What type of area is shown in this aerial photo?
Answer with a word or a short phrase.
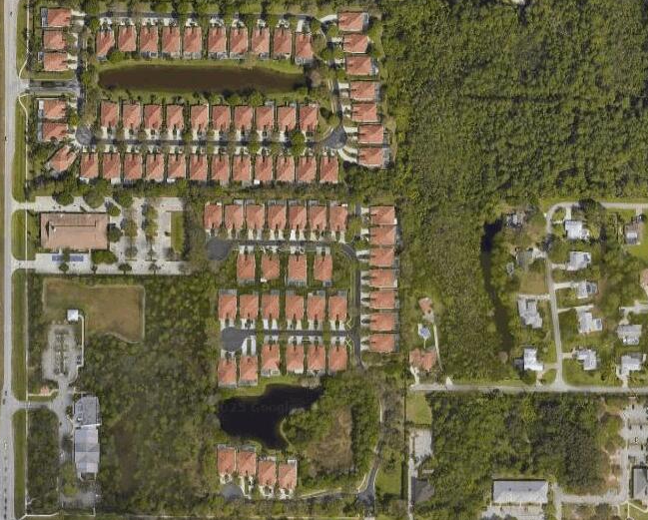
residential area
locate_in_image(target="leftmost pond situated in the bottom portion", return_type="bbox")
[220,384,324,449]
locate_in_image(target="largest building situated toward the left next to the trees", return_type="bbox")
[40,213,107,251]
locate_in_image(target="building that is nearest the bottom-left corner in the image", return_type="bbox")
[73,426,99,479]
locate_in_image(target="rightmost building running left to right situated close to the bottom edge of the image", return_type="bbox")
[495,480,549,502]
